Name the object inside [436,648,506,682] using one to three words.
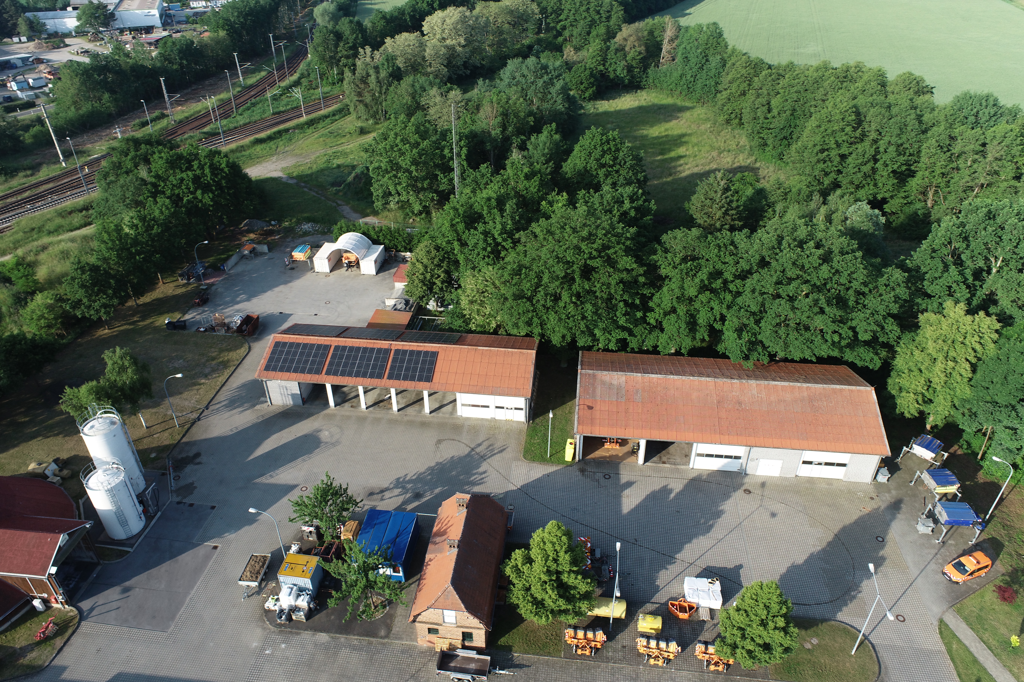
trailer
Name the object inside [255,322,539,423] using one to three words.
building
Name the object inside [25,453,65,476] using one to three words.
water tank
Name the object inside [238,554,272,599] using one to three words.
trailer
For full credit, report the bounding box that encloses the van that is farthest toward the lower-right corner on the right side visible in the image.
[945,545,997,586]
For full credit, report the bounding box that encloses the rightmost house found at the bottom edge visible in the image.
[407,491,511,652]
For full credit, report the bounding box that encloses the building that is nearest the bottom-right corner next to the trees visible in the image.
[574,349,894,485]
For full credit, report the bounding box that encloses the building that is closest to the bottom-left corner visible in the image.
[0,473,103,630]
